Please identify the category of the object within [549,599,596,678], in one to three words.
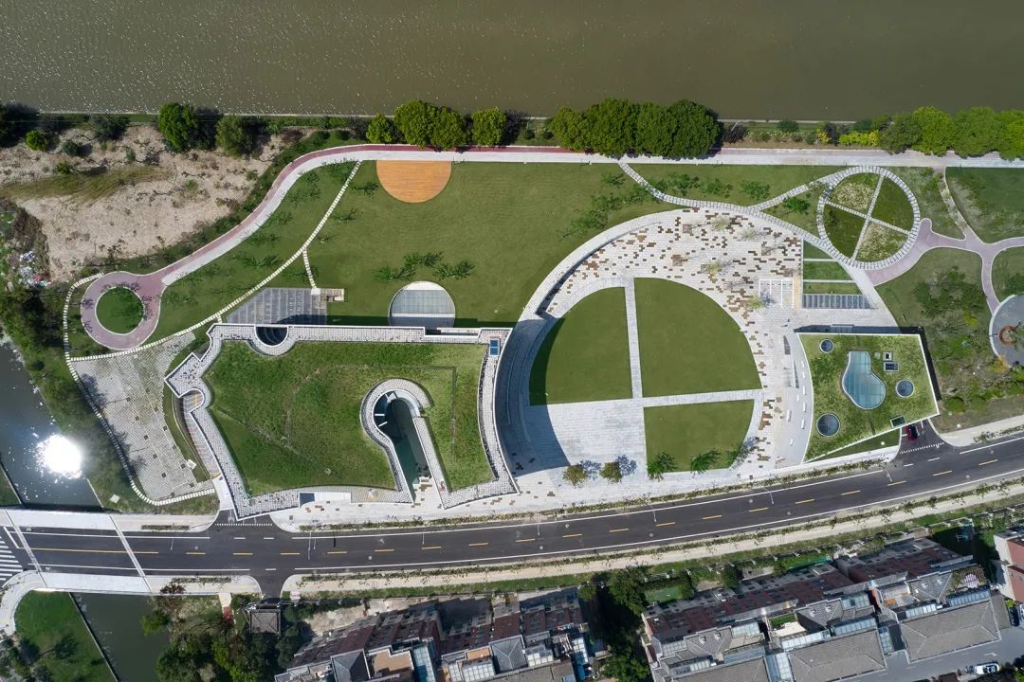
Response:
house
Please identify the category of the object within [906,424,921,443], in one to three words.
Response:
car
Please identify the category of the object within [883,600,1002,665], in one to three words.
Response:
house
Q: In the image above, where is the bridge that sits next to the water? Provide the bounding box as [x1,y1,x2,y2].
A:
[0,507,152,596]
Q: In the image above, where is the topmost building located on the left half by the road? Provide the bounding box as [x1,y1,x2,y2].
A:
[164,324,519,522]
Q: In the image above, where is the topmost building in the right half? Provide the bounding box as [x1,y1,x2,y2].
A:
[775,325,940,468]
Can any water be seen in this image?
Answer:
Yes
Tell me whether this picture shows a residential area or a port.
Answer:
residential area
